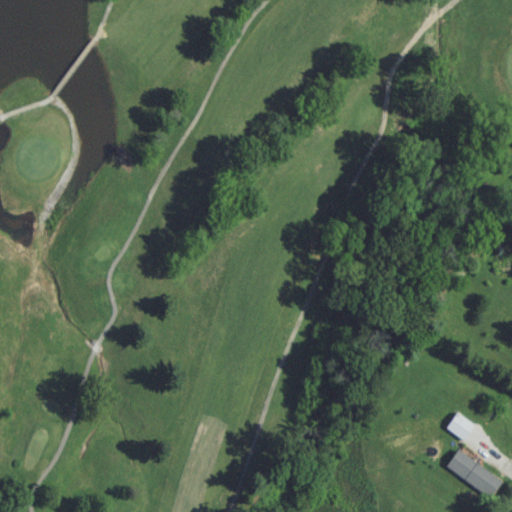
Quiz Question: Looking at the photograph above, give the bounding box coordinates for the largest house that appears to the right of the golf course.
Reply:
[448,450,504,495]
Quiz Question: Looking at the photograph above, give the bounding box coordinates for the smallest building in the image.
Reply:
[446,412,474,440]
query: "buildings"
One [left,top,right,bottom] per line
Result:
[448,450,504,495]
[446,412,474,440]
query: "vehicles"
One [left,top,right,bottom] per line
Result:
[480,450,490,458]
[480,442,490,449]
[490,450,501,459]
